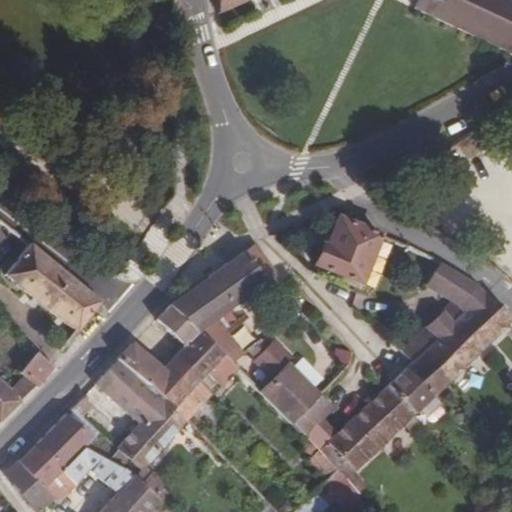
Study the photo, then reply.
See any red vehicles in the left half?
No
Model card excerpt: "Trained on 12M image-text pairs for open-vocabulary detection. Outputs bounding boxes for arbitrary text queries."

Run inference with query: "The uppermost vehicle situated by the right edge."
[486,86,508,102]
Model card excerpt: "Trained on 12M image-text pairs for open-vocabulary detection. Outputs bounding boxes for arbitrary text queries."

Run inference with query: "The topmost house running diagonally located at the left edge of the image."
[6,242,103,332]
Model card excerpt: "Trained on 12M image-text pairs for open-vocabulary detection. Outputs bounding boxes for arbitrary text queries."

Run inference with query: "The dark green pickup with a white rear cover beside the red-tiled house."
[326,282,350,302]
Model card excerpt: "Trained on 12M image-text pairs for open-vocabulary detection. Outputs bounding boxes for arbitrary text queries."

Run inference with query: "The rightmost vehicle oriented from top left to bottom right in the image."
[472,157,490,180]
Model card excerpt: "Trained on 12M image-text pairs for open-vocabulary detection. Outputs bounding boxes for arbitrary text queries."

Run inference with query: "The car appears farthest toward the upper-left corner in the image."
[204,44,217,68]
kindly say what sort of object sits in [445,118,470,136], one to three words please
vehicle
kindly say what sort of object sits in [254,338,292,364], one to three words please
house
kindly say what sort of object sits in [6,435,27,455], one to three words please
car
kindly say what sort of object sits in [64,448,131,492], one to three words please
building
